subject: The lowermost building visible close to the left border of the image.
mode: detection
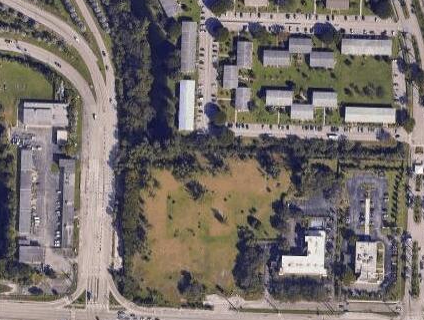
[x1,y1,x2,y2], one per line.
[19,247,44,263]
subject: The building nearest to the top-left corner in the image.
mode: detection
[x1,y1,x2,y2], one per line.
[23,102,67,126]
